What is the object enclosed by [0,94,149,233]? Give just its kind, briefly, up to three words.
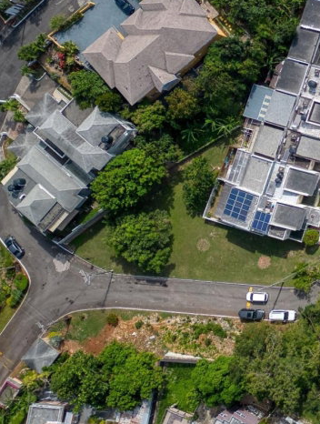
house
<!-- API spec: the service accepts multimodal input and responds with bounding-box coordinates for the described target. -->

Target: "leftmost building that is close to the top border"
[82,0,226,105]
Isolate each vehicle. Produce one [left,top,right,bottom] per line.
[268,310,297,322]
[238,309,266,321]
[2,235,28,261]
[246,292,269,303]
[114,0,138,18]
